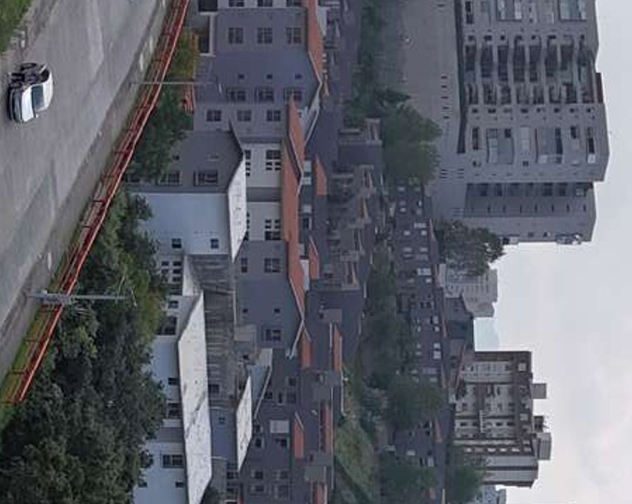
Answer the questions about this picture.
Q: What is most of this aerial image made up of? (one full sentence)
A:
The bulk of the photo consists of buildings.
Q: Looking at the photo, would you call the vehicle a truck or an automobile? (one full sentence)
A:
The vehicle can be classified as an automobile.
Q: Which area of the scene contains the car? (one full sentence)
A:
The car is located in the top left region of the scene.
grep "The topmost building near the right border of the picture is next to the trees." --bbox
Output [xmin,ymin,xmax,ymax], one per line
[432,0,611,246]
